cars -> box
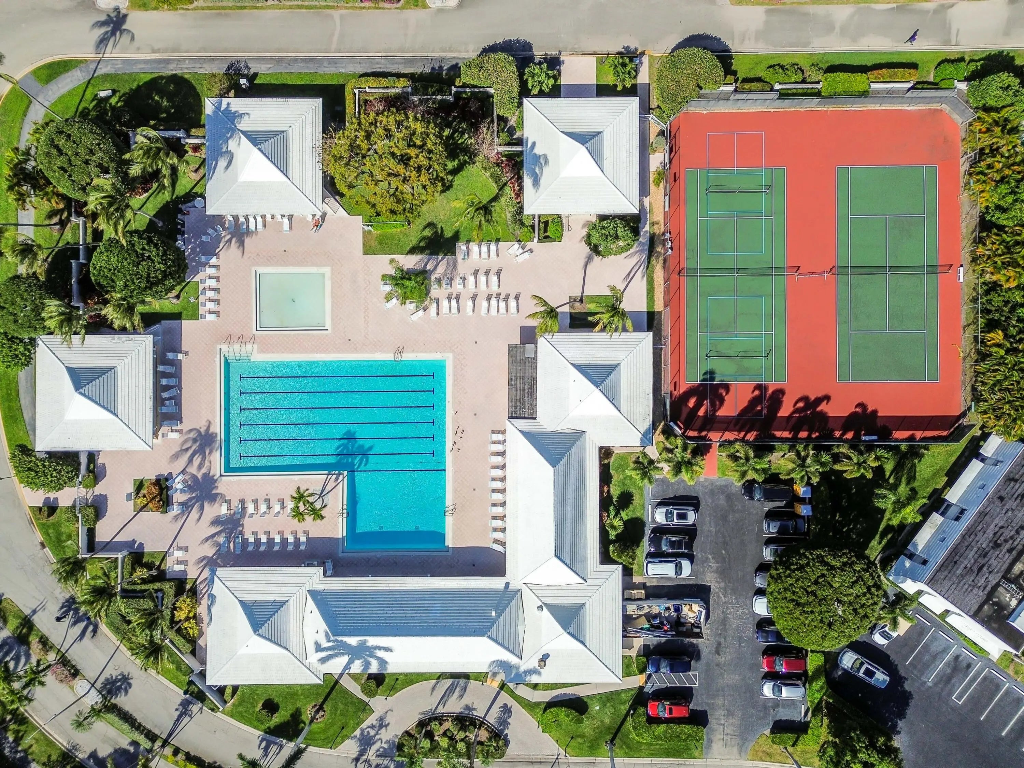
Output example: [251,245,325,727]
[760,677,804,700]
[754,625,797,647]
[868,617,899,643]
[839,649,887,687]
[647,653,690,676]
[742,481,792,504]
[762,542,805,561]
[647,533,693,555]
[761,652,805,675]
[753,563,785,584]
[762,515,804,536]
[654,505,697,526]
[752,594,779,616]
[644,556,690,579]
[647,696,689,719]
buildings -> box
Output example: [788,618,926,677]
[205,97,323,215]
[887,434,1024,668]
[35,335,157,451]
[523,97,639,214]
[206,332,653,685]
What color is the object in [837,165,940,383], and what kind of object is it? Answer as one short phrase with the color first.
green tennis court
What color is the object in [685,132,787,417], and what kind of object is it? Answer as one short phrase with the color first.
green tennis court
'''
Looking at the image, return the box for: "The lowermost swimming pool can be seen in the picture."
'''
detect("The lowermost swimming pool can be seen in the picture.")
[216,345,454,556]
